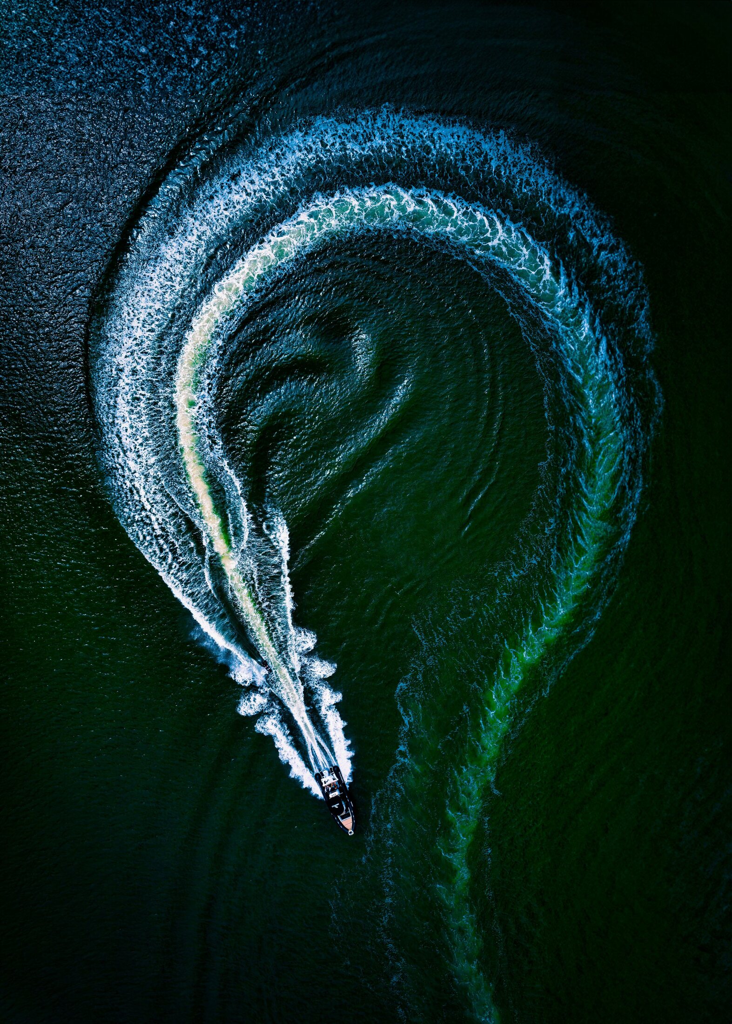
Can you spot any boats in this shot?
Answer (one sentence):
Yes, the frame does contain a boat.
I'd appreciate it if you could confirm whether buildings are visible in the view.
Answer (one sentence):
No, there's no building here.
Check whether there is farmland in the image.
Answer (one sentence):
No, the picture contains no farmland.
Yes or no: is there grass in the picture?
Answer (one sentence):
No, there is no grass in the image.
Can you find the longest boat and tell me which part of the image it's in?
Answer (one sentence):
You can find the longest boat in the bottom area of the picture.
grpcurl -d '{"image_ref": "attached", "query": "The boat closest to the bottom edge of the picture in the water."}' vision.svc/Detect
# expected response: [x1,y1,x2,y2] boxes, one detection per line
[315,766,355,837]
